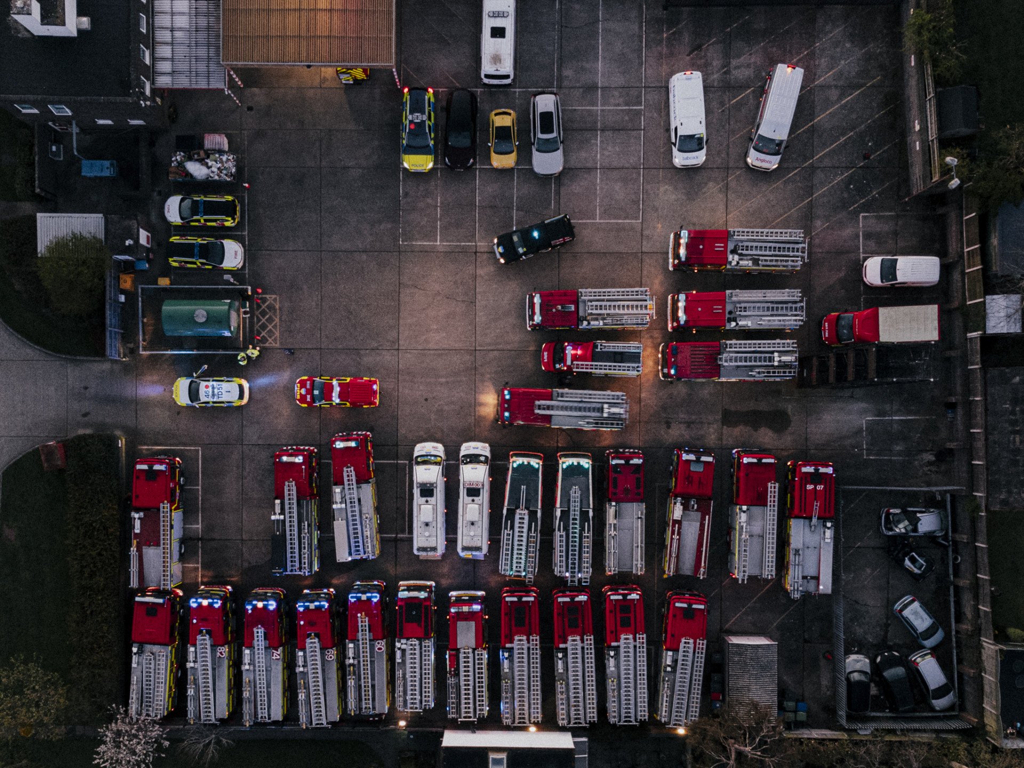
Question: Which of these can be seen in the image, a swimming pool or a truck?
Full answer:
There is a truck in the scene.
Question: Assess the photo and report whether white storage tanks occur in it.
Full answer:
No, no white storage tank is visible in the scene.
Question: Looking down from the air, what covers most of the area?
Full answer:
Most of the picture is covered by paved ground.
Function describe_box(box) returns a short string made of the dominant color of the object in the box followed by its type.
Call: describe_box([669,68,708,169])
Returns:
white van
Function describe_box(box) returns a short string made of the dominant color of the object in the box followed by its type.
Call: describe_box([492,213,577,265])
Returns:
black truck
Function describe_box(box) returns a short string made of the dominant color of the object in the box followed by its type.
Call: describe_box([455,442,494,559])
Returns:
white van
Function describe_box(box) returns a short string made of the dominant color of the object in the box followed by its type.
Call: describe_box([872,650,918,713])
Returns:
black car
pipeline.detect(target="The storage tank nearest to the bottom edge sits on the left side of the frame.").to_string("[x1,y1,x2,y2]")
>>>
[155,301,240,336]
